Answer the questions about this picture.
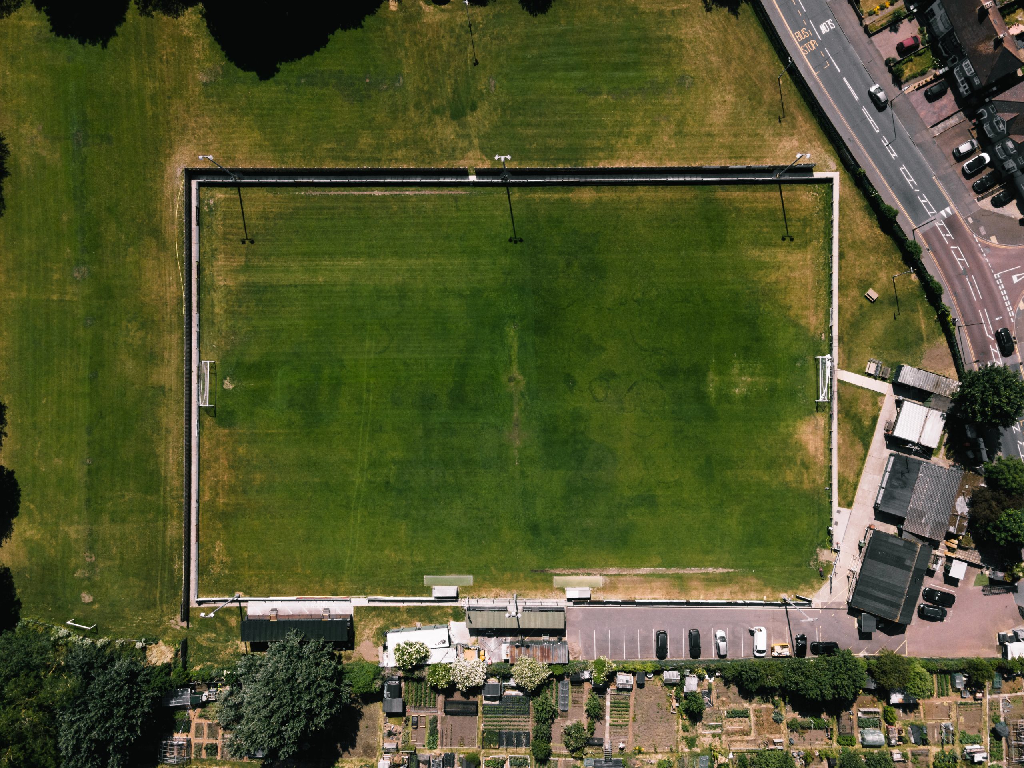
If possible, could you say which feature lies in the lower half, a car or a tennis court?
car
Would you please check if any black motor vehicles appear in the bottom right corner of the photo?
Yes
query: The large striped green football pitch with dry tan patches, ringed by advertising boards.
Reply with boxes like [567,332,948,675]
[199,185,832,599]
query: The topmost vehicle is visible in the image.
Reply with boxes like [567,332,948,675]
[894,37,920,56]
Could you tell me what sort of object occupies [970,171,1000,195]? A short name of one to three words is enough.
car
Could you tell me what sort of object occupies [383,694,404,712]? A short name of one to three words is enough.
shed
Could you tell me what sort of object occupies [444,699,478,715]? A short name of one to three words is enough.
greenhouse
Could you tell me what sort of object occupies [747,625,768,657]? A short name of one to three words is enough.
vehicle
